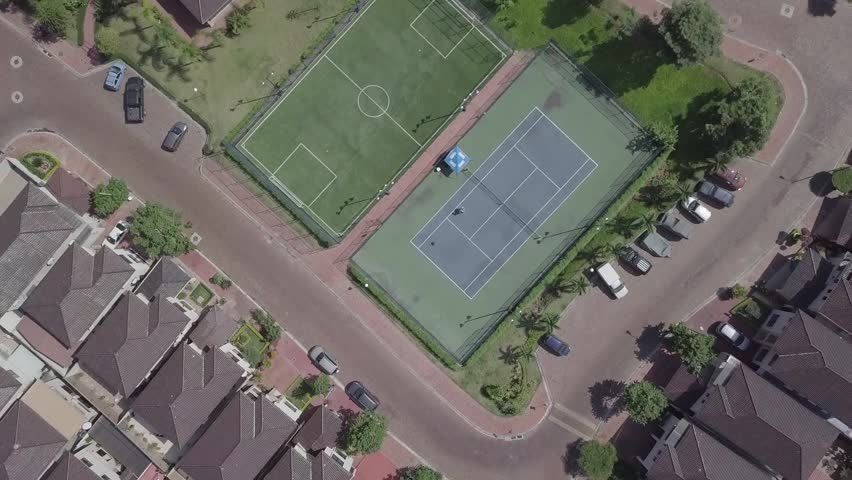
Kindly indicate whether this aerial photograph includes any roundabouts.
No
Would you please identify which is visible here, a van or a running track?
van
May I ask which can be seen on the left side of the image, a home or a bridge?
home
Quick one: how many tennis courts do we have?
2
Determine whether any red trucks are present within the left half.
No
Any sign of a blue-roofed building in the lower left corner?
No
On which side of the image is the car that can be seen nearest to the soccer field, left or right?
left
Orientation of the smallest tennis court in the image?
diagonally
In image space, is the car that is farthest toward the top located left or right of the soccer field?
to the left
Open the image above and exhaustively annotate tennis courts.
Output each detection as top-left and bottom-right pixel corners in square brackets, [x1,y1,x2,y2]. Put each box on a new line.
[419,116,589,290]
[351,47,647,359]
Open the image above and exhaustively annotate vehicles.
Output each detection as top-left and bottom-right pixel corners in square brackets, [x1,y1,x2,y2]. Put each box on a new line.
[102,216,131,249]
[656,211,695,243]
[679,194,715,225]
[597,262,628,299]
[344,379,379,408]
[617,245,654,275]
[307,344,339,376]
[541,332,574,358]
[696,181,737,207]
[711,166,748,190]
[161,119,190,155]
[105,62,127,94]
[714,320,750,351]
[123,78,146,123]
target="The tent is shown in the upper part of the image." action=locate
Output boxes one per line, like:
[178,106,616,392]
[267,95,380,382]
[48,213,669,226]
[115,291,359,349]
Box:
[444,147,470,173]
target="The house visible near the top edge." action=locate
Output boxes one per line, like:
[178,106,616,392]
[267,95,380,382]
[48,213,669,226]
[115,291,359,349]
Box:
[178,0,240,33]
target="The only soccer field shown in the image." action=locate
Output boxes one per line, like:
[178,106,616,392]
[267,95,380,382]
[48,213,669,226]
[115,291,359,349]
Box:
[238,0,512,240]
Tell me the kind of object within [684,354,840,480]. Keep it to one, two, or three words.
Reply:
house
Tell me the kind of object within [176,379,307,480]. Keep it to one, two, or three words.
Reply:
house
